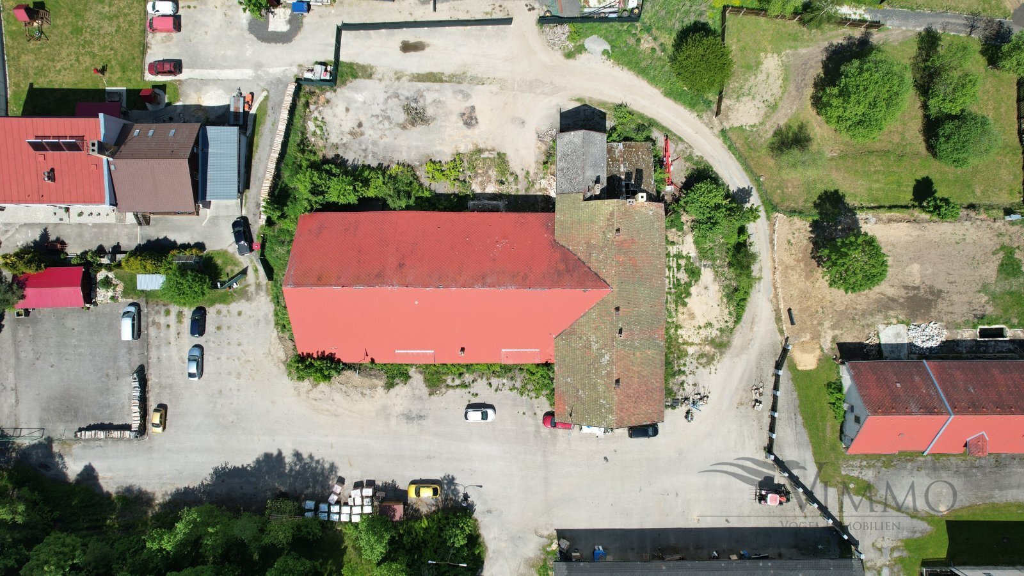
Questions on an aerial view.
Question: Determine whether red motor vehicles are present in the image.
Yes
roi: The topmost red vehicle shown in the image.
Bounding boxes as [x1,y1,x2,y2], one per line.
[148,16,182,33]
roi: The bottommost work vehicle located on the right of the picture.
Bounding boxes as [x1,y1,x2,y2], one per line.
[749,488,800,509]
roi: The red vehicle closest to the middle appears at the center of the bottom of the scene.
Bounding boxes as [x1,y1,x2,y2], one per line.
[541,413,573,429]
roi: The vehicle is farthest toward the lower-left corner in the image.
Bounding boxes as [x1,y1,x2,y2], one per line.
[151,403,168,431]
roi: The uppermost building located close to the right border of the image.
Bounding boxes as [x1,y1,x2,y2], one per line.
[840,360,1024,459]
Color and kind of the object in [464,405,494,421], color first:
white car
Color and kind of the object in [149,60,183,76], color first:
red car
